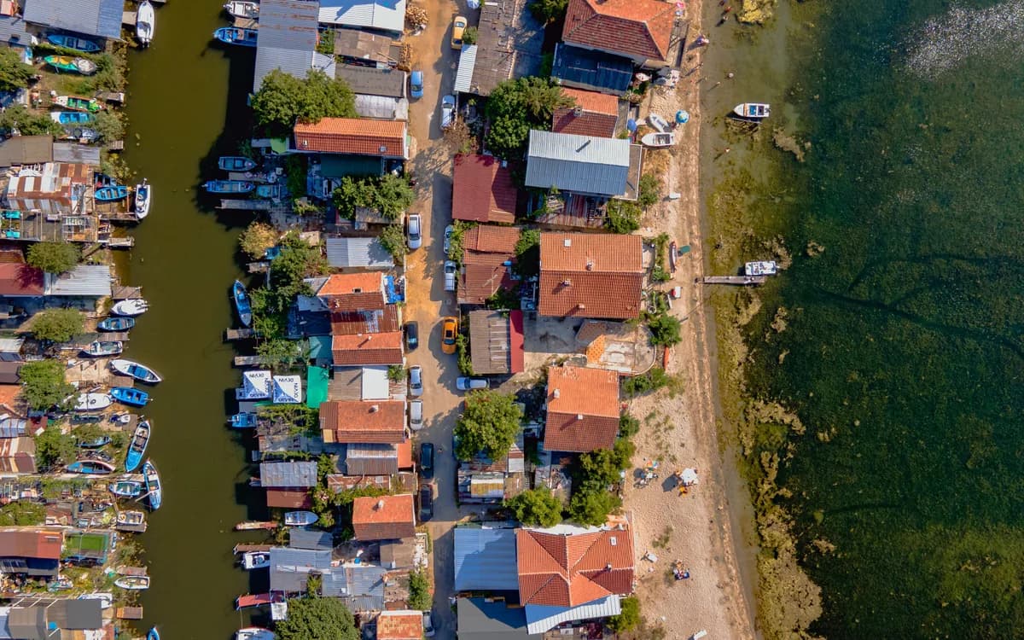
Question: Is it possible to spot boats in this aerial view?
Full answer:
Yes, the image includes a boat.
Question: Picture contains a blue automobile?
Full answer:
Yes, there's a blue automobile here.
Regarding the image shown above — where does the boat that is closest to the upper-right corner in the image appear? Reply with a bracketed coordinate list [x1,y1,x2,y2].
[734,102,775,117]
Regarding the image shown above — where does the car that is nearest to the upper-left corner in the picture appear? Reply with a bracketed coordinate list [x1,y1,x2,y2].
[409,70,425,101]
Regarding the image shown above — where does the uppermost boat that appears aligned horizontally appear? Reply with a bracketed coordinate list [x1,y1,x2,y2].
[222,1,259,18]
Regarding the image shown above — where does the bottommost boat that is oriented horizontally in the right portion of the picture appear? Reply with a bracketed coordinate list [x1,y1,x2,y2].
[744,261,781,276]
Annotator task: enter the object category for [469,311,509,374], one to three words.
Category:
shed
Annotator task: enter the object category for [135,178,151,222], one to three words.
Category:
boat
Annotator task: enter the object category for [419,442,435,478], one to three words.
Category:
car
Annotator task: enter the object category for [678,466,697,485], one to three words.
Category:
umbrella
